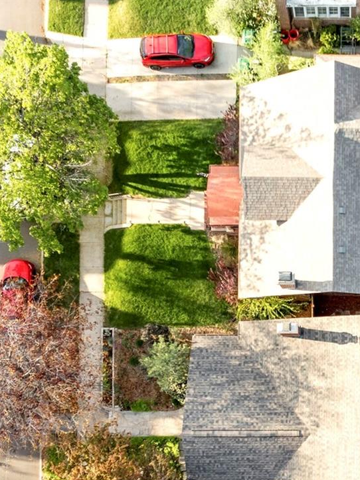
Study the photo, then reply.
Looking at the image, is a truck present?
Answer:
No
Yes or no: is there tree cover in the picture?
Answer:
Yes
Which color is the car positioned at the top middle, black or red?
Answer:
red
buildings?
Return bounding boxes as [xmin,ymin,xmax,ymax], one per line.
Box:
[206,57,360,301]
[260,0,360,34]
[182,313,360,480]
